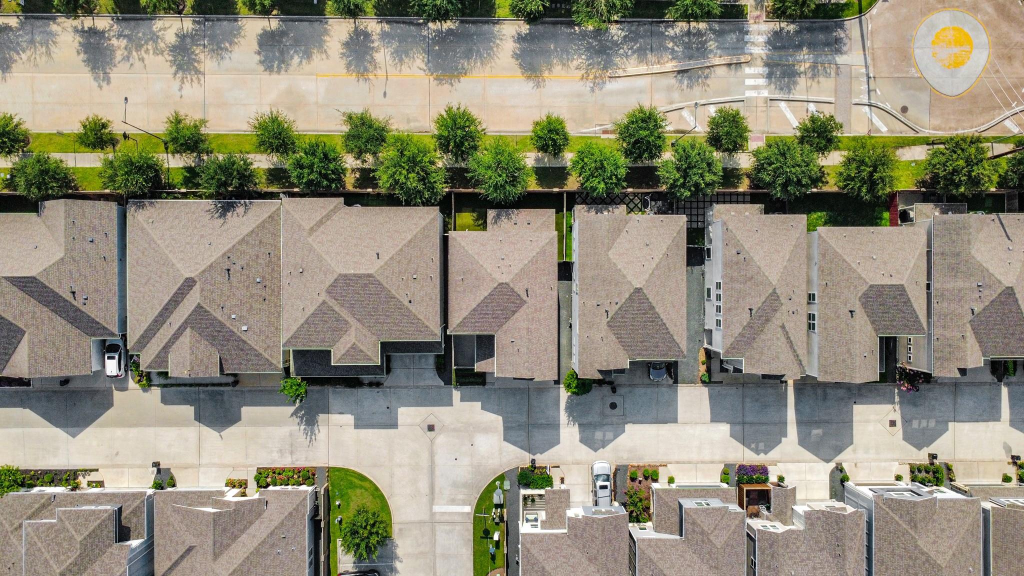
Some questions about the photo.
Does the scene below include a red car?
No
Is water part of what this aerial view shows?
No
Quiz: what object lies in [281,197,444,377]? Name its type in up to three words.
house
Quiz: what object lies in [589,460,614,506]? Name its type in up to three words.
car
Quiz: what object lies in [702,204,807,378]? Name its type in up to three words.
house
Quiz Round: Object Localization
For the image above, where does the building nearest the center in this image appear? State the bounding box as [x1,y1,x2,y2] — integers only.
[448,209,558,380]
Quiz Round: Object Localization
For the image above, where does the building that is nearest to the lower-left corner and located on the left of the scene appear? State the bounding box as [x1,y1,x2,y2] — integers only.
[0,487,154,576]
